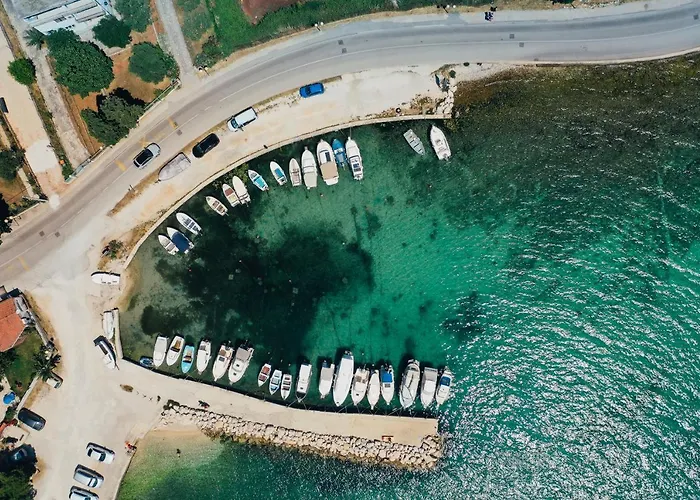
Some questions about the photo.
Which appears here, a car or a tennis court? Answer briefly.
car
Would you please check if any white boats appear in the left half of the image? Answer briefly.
Yes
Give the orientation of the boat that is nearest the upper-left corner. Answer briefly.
diagonally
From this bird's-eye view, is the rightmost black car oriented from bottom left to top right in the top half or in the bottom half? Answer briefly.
top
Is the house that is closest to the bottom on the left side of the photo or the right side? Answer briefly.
left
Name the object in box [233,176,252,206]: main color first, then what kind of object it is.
white boat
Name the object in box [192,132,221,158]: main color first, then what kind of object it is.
black car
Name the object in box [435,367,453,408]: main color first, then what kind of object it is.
white boat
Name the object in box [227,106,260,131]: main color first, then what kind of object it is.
white vehicle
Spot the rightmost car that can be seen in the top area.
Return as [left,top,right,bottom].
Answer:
[299,81,326,99]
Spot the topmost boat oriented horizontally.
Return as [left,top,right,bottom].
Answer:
[91,273,123,285]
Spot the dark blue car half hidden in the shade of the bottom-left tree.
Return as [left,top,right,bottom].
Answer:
[12,444,34,464]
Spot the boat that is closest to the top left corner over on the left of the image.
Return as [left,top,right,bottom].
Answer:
[157,151,193,185]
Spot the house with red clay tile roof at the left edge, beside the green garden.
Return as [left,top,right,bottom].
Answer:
[0,298,33,350]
